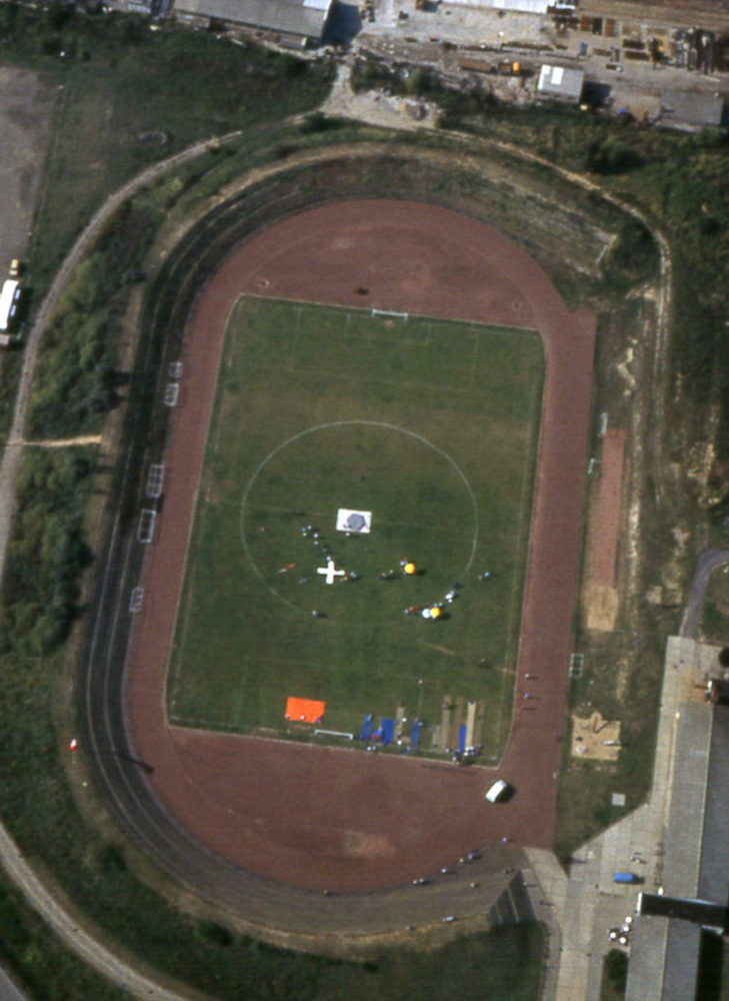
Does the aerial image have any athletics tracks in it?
Yes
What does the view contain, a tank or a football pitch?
football pitch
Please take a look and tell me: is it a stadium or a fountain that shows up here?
stadium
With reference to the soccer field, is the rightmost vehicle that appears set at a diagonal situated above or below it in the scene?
below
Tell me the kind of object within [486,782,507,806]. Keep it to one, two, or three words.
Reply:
vehicle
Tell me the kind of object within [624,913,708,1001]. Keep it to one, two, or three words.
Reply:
building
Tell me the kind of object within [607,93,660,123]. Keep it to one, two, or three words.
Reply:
shed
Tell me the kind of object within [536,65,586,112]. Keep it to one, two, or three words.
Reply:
shed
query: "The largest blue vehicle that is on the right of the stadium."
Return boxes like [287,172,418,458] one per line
[613,872,635,886]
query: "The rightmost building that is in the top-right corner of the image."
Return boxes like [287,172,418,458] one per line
[656,92,724,132]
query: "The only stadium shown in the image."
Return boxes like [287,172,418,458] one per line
[75,155,609,931]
